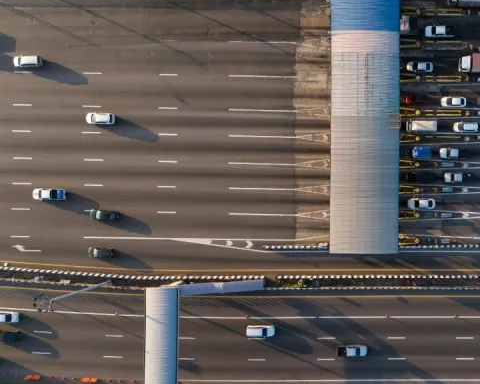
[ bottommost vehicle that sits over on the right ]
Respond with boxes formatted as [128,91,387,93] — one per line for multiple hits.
[337,344,367,359]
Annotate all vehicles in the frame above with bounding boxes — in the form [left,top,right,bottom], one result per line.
[32,187,66,201]
[91,208,120,222]
[13,55,44,69]
[440,94,467,108]
[407,119,439,133]
[399,17,419,33]
[86,111,116,125]
[424,24,455,38]
[453,120,478,134]
[405,92,428,106]
[399,146,413,160]
[245,325,276,339]
[0,331,23,345]
[88,246,116,259]
[407,60,434,73]
[407,197,435,211]
[405,171,437,185]
[0,311,21,325]
[337,344,367,359]
[440,147,471,161]
[459,53,480,72]
[446,0,480,8]
[444,170,471,184]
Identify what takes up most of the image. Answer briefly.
paved ground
